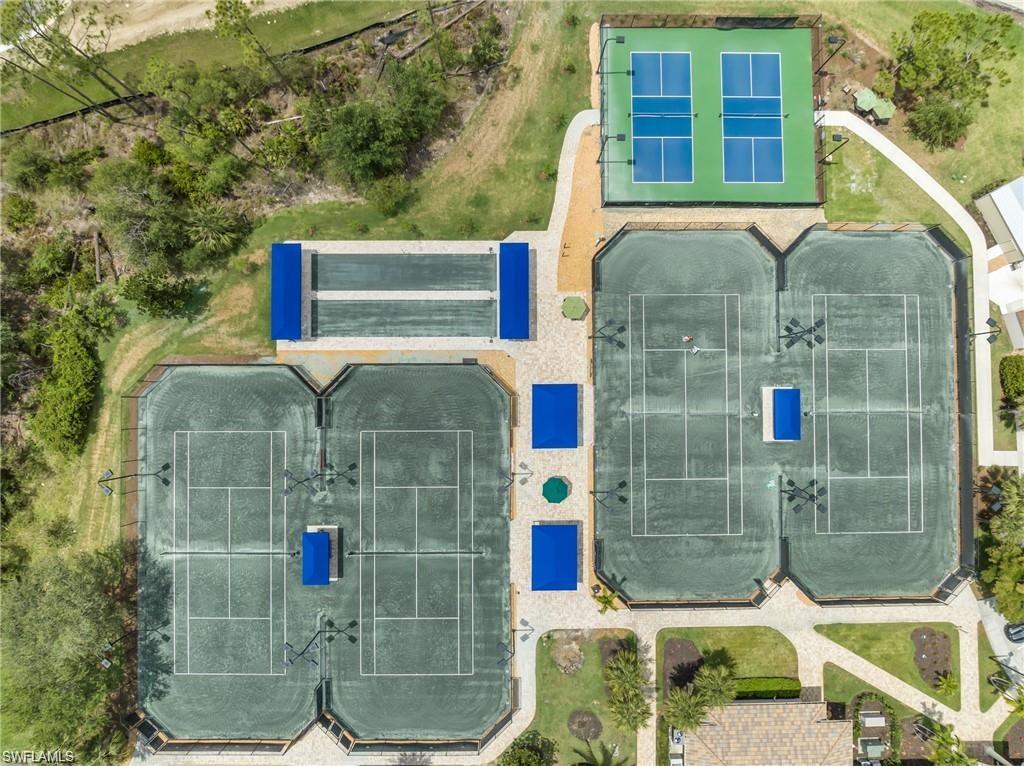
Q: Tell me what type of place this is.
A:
sports ground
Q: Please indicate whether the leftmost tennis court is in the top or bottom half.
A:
bottom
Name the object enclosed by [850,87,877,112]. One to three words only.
umbrella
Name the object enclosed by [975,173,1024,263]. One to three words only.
building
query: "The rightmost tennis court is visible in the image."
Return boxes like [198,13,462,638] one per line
[777,231,959,599]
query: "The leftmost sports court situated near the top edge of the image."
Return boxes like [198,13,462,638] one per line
[600,27,709,205]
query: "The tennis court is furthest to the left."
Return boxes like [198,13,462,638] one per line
[138,366,322,739]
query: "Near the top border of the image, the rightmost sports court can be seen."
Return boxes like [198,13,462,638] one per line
[707,27,818,201]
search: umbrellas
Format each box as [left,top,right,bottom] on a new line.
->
[870,97,896,121]
[850,87,877,112]
[543,476,568,502]
[561,295,587,320]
